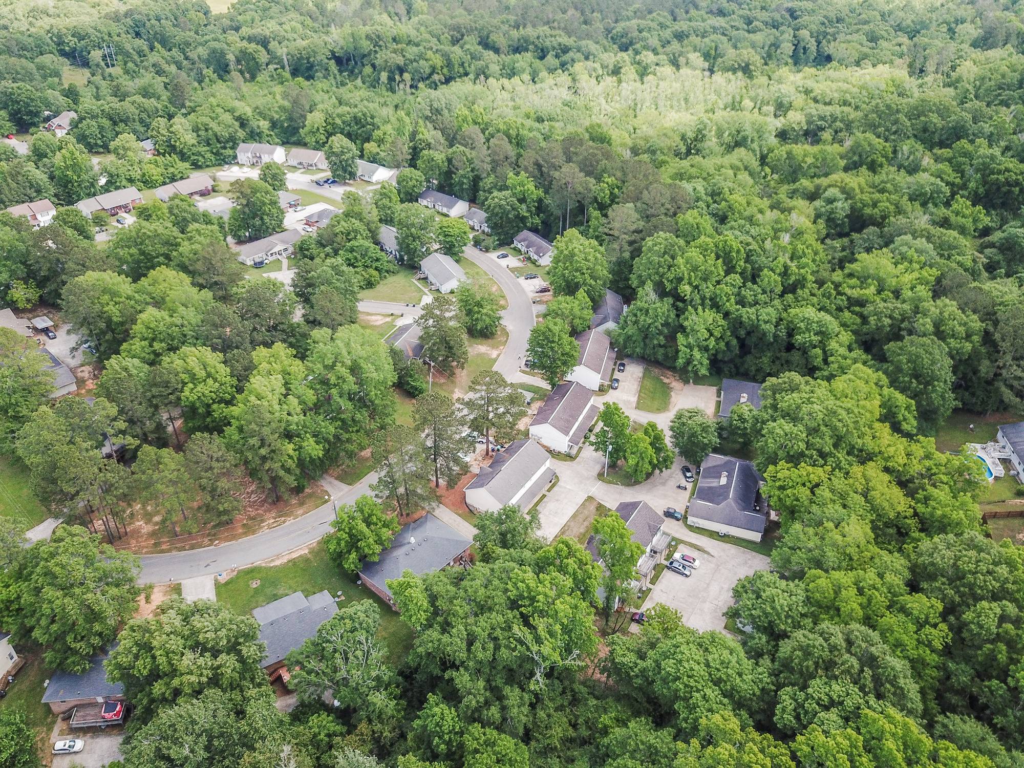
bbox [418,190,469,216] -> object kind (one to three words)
house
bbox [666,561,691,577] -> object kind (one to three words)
car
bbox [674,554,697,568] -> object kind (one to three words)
car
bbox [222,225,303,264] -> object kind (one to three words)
house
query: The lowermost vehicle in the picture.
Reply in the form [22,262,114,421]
[52,738,84,755]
